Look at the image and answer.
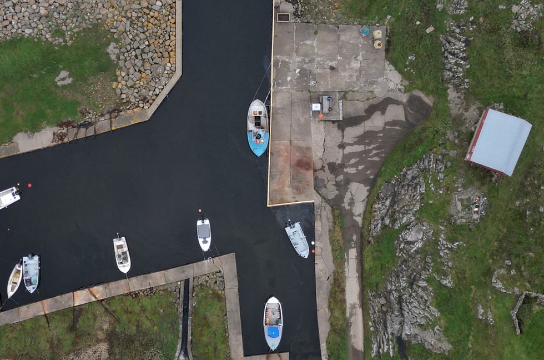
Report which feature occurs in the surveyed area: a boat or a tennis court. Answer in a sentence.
This aerial view contains a boat.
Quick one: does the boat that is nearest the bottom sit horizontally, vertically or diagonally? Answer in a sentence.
The boat that is nearest the bottom is oriented vertically.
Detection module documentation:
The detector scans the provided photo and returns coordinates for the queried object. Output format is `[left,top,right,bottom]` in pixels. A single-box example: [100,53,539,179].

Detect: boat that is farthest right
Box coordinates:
[286,217,309,258]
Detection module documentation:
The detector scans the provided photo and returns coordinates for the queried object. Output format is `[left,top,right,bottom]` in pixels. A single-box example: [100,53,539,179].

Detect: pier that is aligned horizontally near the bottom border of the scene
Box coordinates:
[0,252,289,360]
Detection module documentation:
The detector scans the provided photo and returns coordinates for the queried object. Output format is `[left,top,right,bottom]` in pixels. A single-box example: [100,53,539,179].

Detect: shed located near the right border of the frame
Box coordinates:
[463,107,532,178]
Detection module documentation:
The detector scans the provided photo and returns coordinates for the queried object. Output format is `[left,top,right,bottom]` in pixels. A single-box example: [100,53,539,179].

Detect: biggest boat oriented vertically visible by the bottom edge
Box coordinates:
[263,296,283,351]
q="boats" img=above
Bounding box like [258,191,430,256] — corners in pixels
[23,254,40,294]
[0,187,26,208]
[286,217,309,258]
[8,258,23,298]
[197,211,211,252]
[247,100,269,157]
[263,296,283,351]
[113,229,131,273]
